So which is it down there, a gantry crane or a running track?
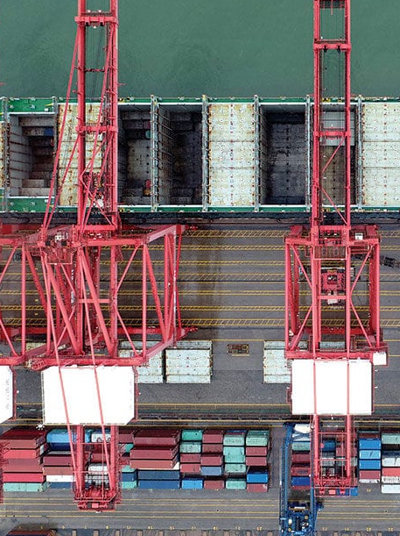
gantry crane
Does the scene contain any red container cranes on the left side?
Yes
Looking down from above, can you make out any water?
Yes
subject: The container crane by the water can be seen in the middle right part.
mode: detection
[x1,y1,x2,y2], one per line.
[270,0,393,495]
